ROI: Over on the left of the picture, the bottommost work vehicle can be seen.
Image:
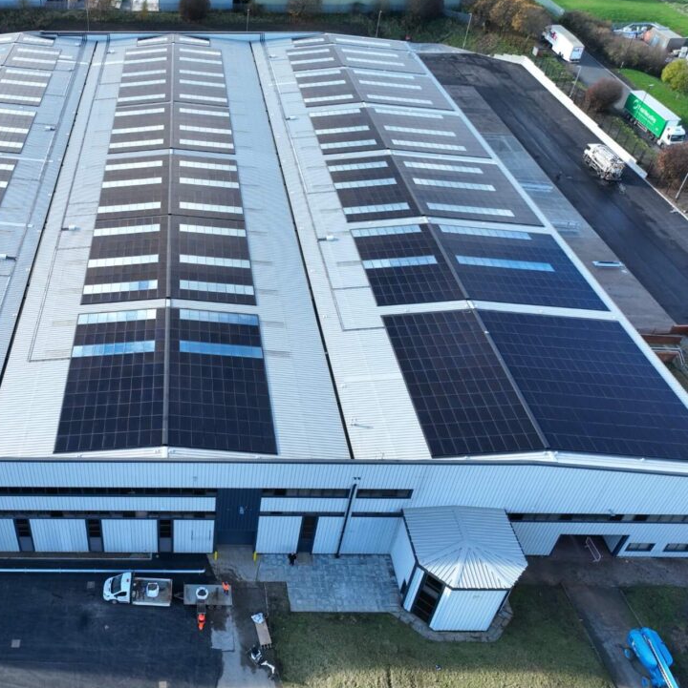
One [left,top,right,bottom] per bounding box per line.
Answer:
[250,644,283,677]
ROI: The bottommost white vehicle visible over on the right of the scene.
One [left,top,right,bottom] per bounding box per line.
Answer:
[584,143,623,177]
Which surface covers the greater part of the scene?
buildings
